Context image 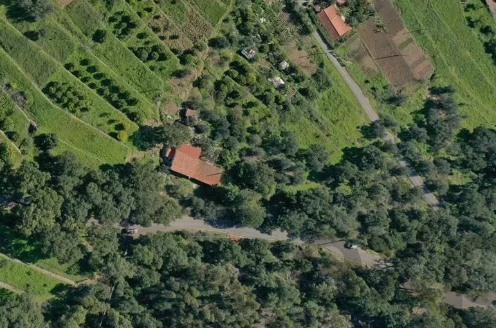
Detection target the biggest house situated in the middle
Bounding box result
[170,143,223,186]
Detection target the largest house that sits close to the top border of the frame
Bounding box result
[314,5,351,40]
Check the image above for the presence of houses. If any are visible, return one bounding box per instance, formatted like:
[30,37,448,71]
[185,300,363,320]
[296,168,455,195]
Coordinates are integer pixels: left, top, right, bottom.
[170,143,223,186]
[314,5,351,40]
